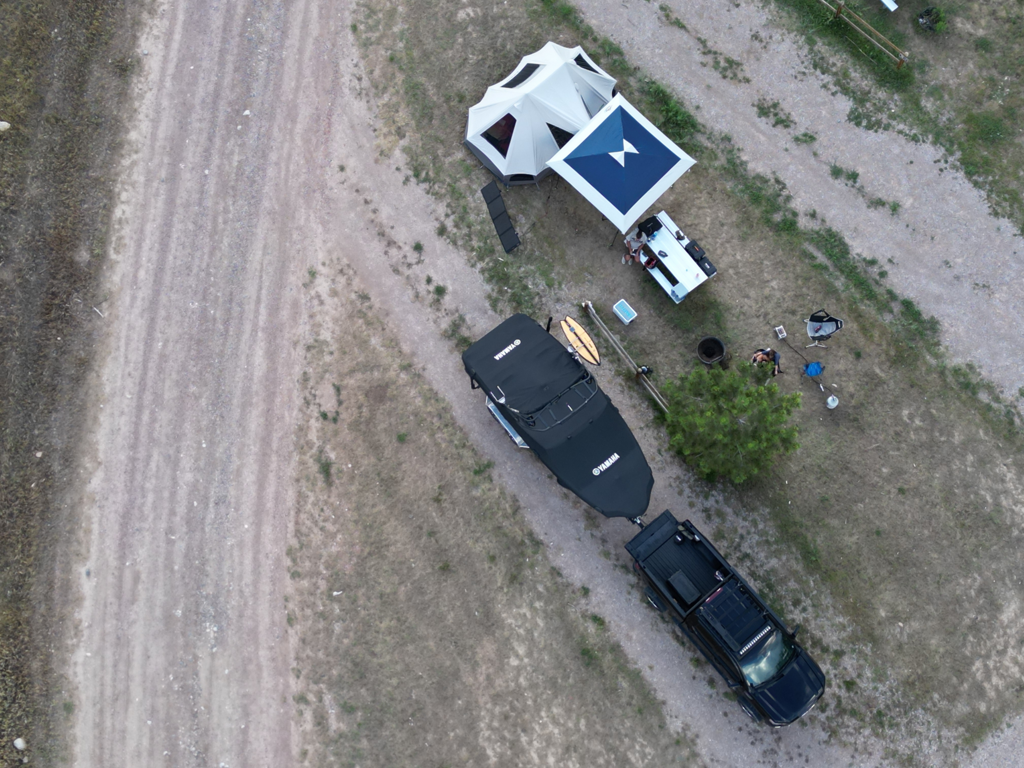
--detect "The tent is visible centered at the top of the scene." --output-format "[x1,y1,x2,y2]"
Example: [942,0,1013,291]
[457,42,624,193]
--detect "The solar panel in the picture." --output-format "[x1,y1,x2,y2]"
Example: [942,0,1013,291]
[481,181,520,252]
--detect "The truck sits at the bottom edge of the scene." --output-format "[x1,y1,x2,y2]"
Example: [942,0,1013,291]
[625,509,827,736]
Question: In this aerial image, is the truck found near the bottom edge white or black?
black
